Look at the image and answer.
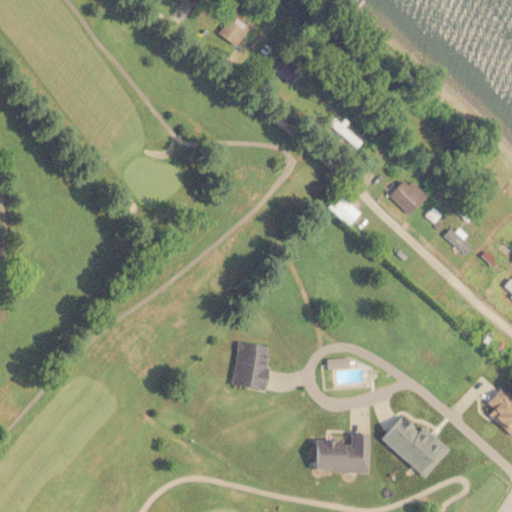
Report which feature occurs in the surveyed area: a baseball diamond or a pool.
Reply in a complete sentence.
There is a pool in the scene.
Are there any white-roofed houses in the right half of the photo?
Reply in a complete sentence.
Yes, there is a white-roofed house in the right half of the photo.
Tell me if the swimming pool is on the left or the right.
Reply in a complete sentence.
The swimming pool appears in the right half of the scene.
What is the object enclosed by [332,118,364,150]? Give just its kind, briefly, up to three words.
house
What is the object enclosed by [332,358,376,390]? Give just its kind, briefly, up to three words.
swimming pool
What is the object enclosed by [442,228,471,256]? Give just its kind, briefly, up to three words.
house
